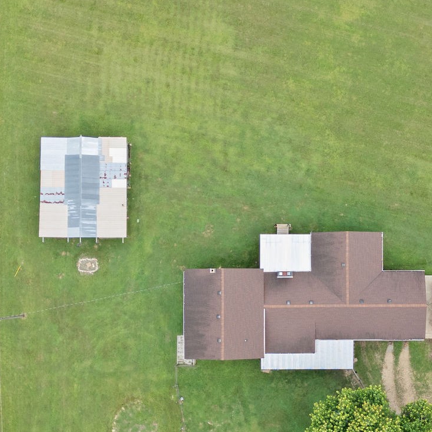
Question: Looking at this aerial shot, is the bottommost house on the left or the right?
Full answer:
The bottommost house is on the right side of the image.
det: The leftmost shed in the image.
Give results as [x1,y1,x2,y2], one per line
[37,135,128,243]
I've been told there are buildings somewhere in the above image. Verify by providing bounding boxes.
[37,135,128,243]
[182,231,428,369]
